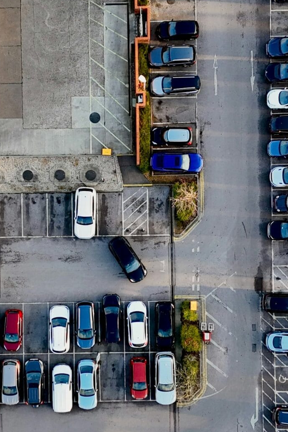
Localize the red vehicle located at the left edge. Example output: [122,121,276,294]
[2,308,24,351]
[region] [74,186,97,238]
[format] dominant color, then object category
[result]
white car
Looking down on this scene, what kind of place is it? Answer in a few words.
parking lot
